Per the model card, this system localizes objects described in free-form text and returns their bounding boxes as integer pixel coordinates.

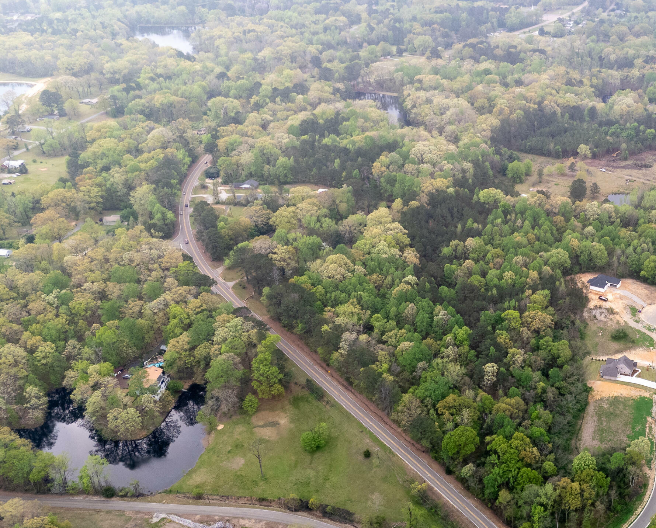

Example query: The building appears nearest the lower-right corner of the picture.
[600,351,644,380]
